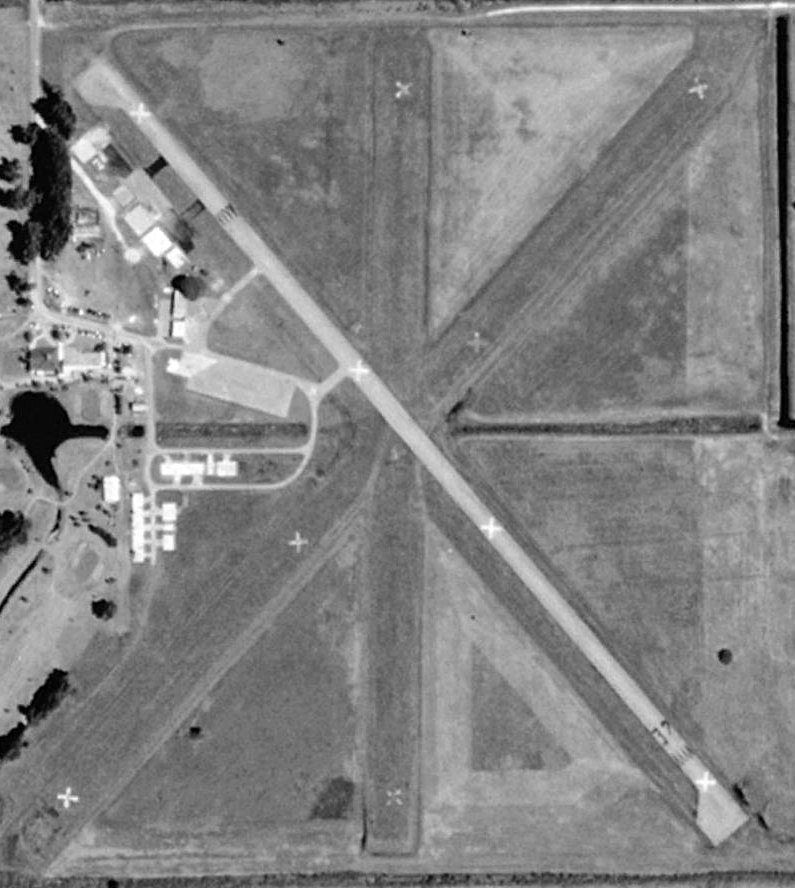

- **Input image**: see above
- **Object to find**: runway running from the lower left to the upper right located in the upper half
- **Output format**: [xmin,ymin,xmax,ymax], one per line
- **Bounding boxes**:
[405,29,762,414]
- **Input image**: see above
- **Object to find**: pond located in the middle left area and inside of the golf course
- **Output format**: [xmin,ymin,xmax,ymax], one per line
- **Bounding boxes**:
[2,391,108,490]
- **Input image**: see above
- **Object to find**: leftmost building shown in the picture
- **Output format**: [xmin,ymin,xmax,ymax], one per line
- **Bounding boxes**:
[30,348,56,370]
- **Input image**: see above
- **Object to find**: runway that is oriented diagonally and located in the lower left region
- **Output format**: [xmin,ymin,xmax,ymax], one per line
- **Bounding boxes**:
[2,431,390,866]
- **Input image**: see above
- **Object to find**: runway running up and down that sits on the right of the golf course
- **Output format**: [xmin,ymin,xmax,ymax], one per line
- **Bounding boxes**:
[362,28,429,853]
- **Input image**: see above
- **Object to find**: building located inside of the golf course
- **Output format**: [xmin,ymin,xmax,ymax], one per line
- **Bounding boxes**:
[103,475,120,502]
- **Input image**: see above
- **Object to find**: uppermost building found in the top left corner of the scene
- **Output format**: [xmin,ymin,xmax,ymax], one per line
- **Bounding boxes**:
[71,138,96,162]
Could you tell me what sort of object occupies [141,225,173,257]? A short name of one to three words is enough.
hangar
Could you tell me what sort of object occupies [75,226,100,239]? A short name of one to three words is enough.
house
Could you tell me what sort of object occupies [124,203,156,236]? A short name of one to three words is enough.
hangar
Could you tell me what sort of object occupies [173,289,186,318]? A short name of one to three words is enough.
building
